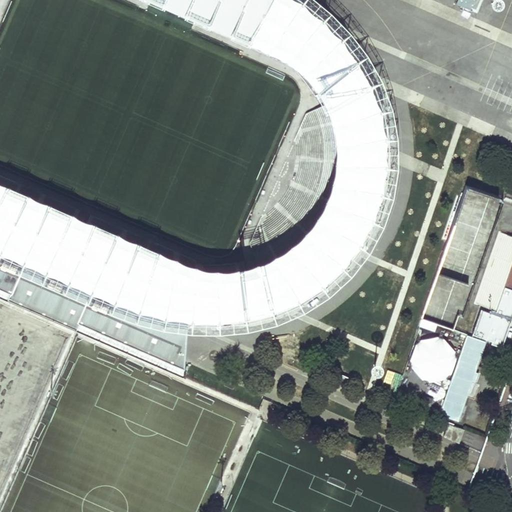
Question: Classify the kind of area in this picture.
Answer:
sports ground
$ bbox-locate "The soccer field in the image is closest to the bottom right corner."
[222,421,434,512]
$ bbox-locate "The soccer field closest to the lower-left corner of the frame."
[2,343,248,512]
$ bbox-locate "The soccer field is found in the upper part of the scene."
[0,0,294,250]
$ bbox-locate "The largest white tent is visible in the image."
[410,336,458,383]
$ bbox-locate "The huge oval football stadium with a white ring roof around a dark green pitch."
[0,0,400,335]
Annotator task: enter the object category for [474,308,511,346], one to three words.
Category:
building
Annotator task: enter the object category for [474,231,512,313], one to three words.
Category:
building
